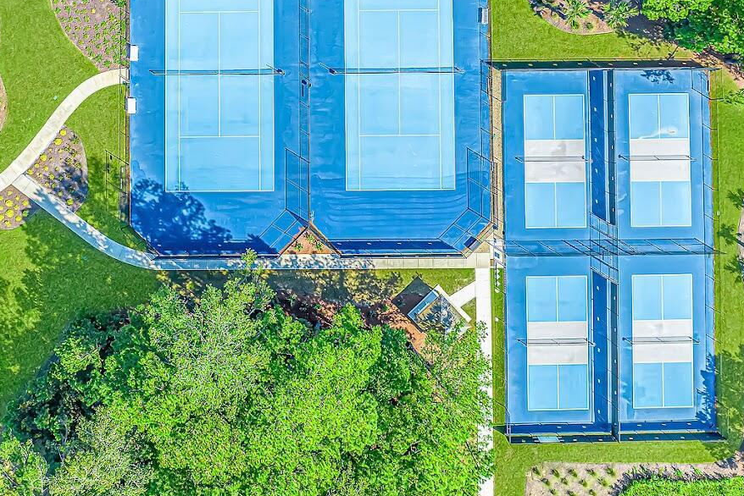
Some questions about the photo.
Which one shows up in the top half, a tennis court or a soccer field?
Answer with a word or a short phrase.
tennis court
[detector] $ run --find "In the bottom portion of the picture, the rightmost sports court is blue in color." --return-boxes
[608,250,717,434]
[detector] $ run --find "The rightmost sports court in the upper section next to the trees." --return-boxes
[607,68,713,250]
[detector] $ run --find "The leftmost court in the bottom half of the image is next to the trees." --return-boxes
[505,251,609,435]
